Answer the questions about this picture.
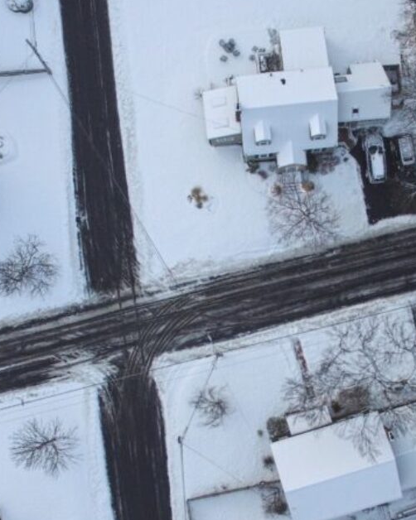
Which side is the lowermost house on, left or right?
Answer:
right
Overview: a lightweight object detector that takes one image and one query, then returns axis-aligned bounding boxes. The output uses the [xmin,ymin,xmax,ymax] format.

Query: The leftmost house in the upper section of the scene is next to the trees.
[203,26,389,183]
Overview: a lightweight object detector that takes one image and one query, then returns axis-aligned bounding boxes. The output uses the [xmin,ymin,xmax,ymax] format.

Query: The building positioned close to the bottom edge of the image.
[270,402,416,520]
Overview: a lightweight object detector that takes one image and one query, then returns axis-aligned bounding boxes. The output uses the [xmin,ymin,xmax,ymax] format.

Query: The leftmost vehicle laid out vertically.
[362,135,389,187]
